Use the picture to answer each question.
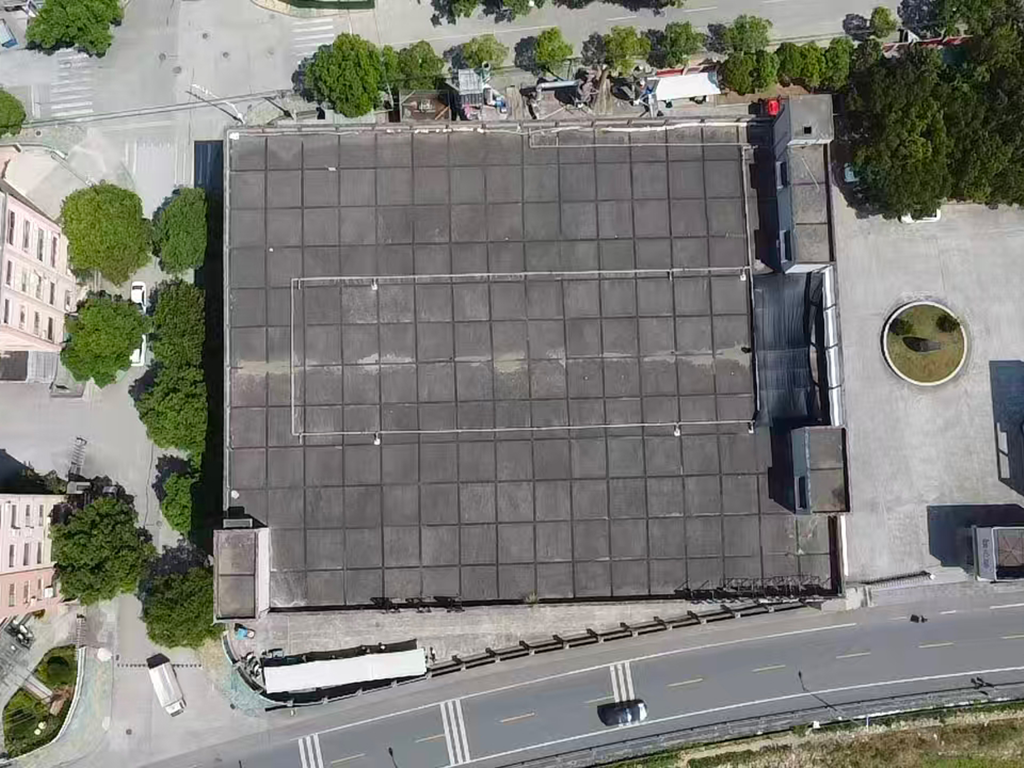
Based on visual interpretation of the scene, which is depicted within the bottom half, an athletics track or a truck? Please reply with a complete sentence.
The feature located within the bottom half is a truck.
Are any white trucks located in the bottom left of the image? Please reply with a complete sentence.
Yes, I can see a white truck in the bottom left of the image.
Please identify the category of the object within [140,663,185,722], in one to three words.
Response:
truck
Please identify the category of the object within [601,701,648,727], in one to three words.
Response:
car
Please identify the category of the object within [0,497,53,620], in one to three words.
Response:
building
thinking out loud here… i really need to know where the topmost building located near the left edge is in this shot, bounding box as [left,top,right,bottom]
[0,197,75,348]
